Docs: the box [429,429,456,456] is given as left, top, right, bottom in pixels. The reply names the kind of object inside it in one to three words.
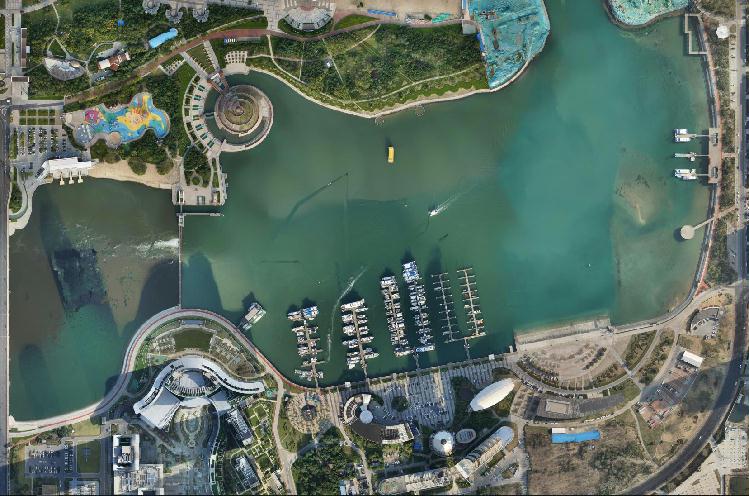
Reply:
building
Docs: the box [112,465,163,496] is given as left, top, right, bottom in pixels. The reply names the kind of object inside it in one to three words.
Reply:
building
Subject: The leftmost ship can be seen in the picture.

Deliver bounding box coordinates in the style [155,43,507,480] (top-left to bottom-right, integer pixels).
[241,307,263,335]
